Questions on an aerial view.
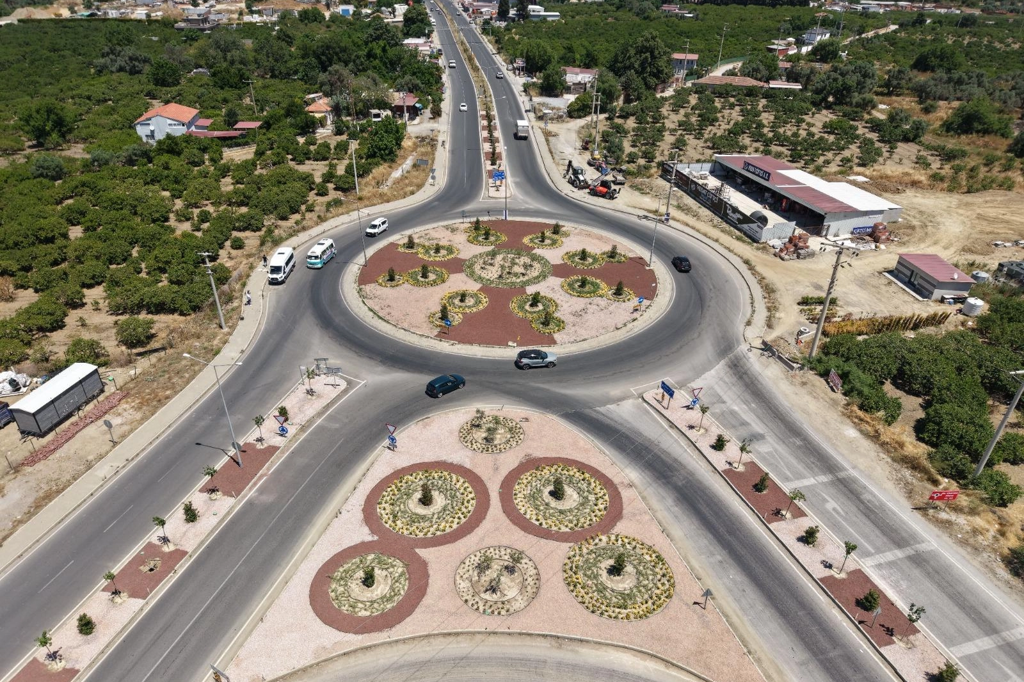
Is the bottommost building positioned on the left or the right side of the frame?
right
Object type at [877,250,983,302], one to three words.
building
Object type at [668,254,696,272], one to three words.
car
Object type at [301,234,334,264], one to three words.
vehicle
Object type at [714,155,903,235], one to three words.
building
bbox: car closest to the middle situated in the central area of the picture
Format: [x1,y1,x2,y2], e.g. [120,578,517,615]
[514,347,560,370]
